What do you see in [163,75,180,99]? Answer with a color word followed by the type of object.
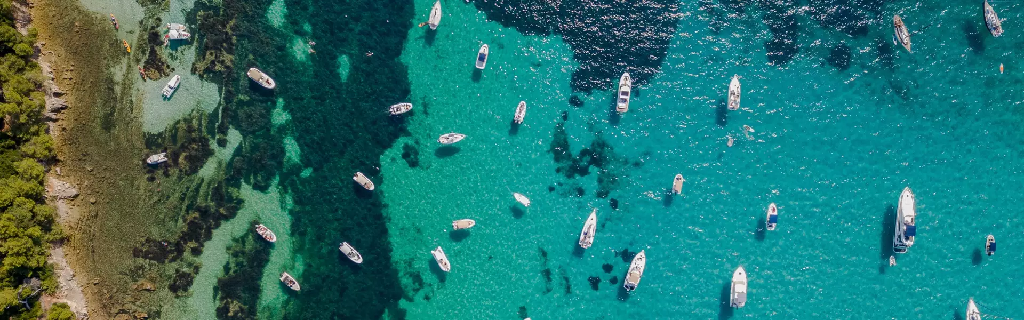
white boat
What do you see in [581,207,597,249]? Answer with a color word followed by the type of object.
white boat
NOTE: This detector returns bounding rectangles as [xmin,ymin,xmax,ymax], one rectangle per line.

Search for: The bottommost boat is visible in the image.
[966,299,1005,320]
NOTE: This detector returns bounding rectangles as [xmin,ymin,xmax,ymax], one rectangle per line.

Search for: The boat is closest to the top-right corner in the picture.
[982,0,1015,38]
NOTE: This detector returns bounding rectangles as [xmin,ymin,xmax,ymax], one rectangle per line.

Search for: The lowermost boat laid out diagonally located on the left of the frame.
[279,274,300,290]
